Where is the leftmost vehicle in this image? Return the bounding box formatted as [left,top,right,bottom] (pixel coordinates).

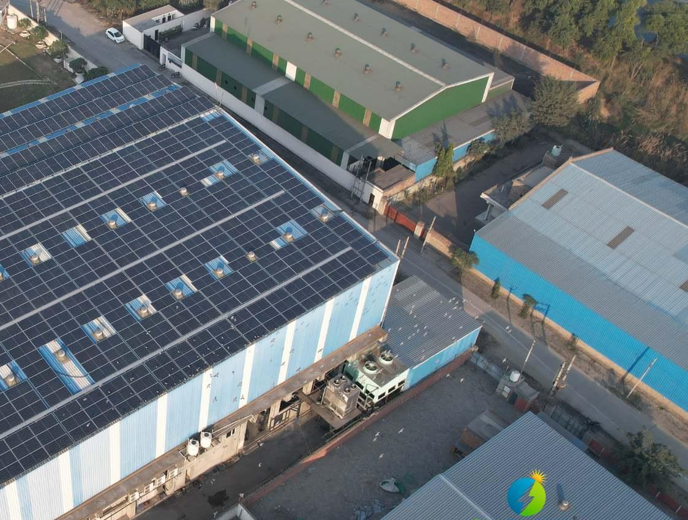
[105,27,128,45]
